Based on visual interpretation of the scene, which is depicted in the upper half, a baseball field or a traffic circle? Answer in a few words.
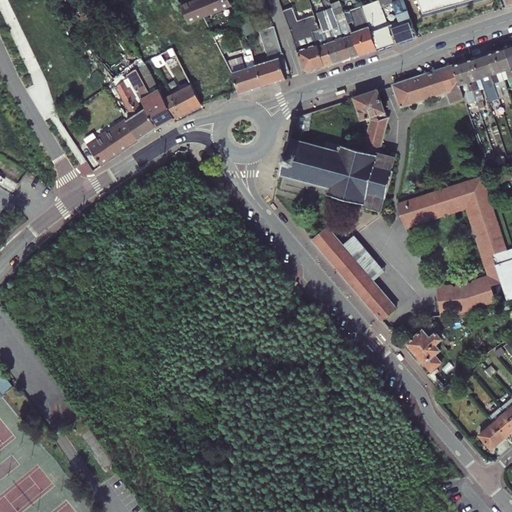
traffic circle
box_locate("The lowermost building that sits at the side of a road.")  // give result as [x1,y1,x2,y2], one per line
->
[480,408,512,454]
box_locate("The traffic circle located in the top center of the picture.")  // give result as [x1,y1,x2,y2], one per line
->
[212,100,276,164]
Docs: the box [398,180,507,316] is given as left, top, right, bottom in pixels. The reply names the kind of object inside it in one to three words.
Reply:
building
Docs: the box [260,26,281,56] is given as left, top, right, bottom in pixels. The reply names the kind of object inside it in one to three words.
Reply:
building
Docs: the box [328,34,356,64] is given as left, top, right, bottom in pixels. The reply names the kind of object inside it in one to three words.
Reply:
house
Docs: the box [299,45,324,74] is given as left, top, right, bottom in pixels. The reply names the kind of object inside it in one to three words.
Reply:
house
